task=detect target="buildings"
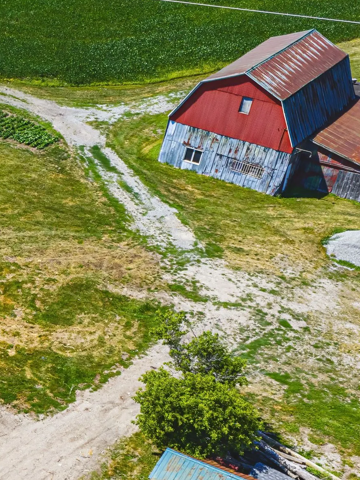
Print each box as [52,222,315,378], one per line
[150,448,250,480]
[158,26,358,198]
